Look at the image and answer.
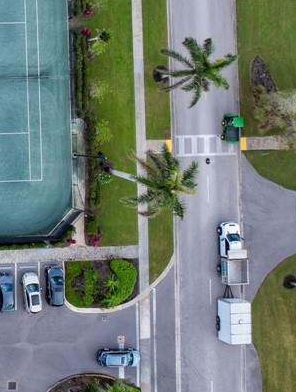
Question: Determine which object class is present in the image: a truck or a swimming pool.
truck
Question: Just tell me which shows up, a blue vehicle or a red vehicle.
blue vehicle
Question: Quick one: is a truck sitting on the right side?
Yes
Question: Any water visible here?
No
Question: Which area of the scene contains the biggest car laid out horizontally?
bottom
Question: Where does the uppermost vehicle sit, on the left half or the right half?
right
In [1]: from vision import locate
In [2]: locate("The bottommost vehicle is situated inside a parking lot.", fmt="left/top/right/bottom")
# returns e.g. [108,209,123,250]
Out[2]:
[95,346,139,368]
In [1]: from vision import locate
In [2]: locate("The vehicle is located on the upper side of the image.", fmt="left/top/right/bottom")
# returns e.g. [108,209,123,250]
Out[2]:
[219,116,242,142]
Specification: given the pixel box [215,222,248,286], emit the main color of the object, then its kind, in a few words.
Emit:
white truck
